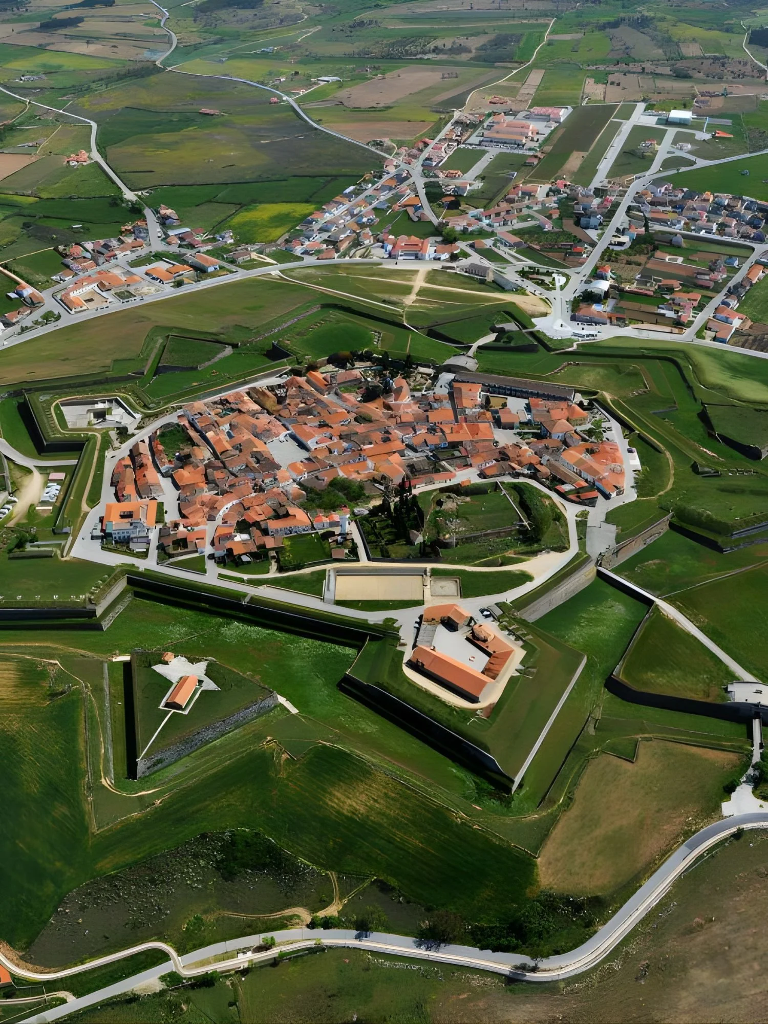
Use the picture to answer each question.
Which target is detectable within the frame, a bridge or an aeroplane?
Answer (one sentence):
I can see a bridge in this picture.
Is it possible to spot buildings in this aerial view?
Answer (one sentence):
Yes, looking at the shot, I can spot a building.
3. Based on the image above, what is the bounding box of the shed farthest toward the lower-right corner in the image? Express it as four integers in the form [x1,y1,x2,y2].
[415,623,437,649]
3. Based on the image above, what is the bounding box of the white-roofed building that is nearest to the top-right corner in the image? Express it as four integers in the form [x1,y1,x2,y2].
[667,108,691,125]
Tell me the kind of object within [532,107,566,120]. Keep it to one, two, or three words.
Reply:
building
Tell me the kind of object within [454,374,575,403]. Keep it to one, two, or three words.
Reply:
shed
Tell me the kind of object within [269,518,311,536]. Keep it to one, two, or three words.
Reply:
house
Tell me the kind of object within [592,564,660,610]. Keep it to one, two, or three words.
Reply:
bridge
